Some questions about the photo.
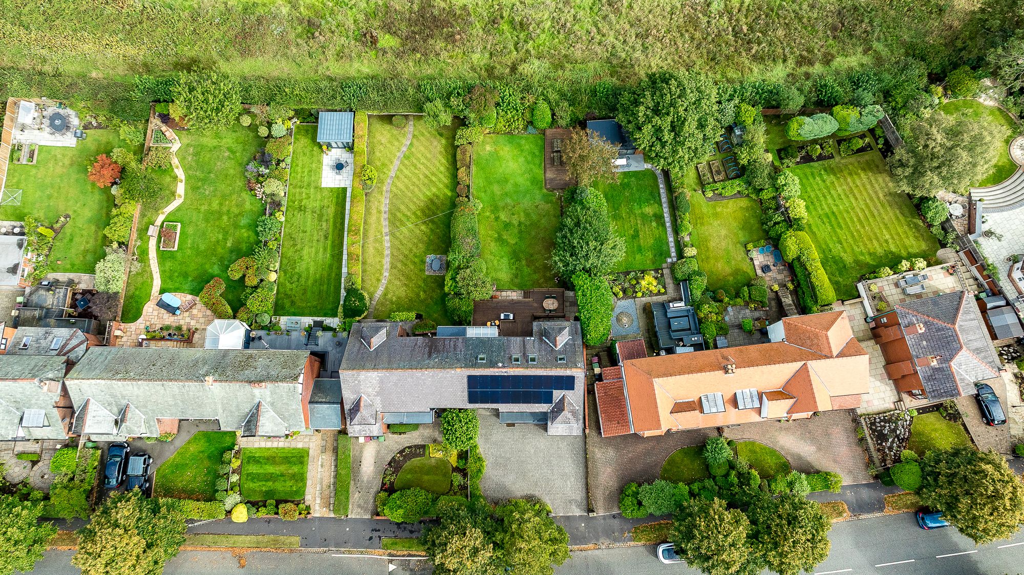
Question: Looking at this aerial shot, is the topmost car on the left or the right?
right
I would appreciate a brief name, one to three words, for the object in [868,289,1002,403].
house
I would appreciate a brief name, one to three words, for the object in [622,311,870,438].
house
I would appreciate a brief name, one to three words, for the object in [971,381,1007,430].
car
